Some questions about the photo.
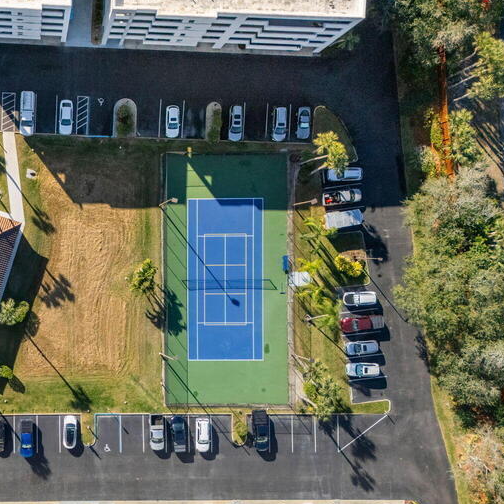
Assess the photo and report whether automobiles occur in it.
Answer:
Yes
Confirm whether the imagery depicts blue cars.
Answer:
Yes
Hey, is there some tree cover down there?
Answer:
Yes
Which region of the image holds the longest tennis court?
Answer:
center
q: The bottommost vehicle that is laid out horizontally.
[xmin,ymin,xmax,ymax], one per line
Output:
[345,362,380,378]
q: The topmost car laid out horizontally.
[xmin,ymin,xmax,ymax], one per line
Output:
[326,167,362,183]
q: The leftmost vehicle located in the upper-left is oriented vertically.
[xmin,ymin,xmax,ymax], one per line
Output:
[19,90,36,136]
